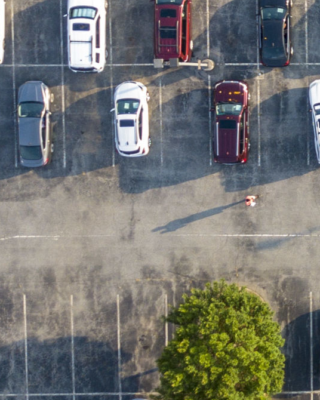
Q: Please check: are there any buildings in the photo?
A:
No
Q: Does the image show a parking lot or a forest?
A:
parking lot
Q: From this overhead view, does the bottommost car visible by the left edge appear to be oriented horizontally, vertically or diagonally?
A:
vertically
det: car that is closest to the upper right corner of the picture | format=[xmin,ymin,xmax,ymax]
[254,0,295,66]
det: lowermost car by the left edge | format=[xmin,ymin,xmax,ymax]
[11,81,57,167]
